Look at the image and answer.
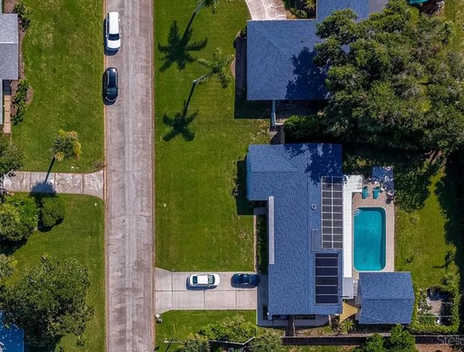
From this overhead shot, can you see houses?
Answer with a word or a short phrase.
Yes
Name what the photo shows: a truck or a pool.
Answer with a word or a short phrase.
pool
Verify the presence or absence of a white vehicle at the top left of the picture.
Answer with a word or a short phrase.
Yes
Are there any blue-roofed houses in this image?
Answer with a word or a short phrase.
Yes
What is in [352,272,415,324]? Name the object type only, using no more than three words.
shed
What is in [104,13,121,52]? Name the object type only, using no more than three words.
car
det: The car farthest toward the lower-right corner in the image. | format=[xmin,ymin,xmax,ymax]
[230,272,259,287]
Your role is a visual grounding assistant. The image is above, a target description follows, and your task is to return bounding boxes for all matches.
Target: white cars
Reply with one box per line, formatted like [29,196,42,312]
[104,13,121,52]
[186,273,219,288]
